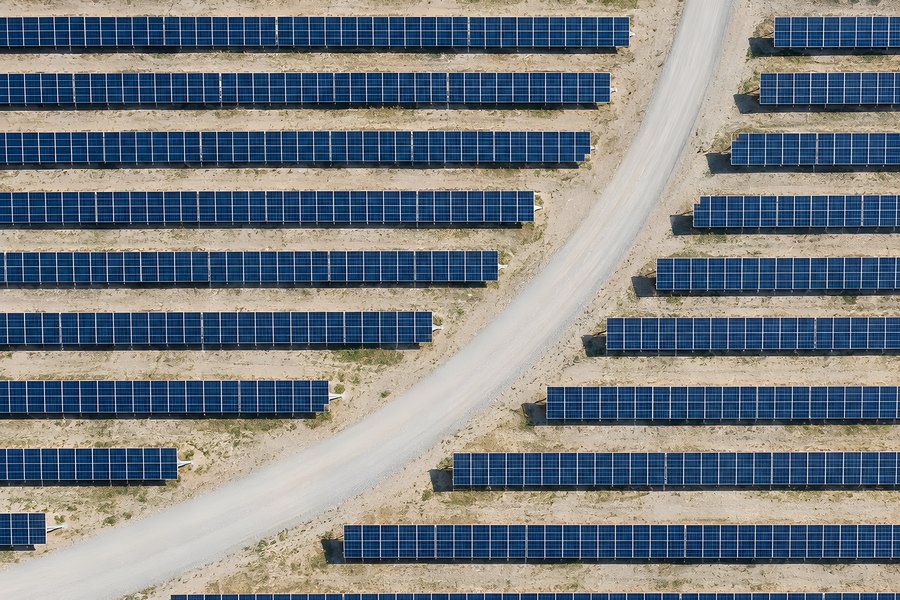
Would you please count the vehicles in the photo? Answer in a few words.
0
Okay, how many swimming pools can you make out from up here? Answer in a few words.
0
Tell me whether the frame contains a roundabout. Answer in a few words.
No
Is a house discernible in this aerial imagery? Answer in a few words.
No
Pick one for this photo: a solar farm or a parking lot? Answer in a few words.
solar farm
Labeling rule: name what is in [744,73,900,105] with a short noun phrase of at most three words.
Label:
solar array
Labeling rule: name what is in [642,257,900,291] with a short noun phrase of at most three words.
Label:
solar array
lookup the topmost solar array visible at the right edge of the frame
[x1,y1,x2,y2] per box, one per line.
[758,17,900,49]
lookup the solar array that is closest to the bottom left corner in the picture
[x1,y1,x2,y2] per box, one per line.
[0,512,70,546]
